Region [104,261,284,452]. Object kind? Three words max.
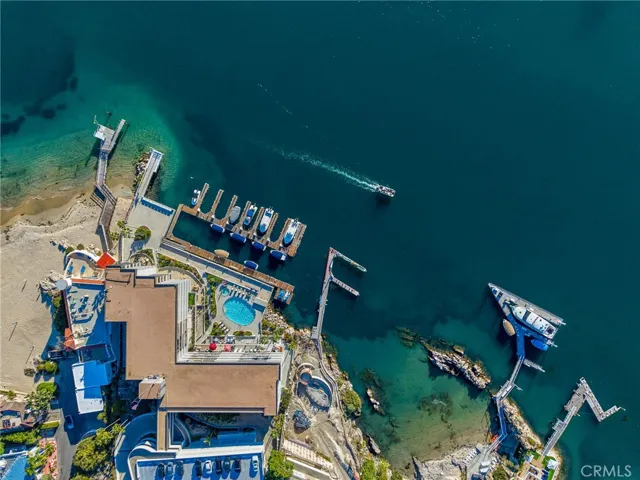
building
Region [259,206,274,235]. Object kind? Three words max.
boat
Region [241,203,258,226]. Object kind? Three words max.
boat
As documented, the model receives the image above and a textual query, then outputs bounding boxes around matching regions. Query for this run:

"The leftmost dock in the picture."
[93,115,129,252]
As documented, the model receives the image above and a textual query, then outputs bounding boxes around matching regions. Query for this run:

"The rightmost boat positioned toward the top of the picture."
[376,182,396,195]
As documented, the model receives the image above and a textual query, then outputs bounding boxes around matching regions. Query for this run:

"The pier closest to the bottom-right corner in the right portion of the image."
[539,376,625,456]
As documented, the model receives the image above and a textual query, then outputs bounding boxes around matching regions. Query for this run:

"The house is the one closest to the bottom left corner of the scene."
[0,398,35,430]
